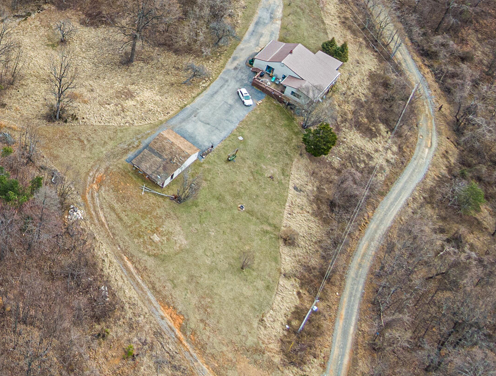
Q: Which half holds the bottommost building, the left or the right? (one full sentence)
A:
You can find the bottommost building on the left side of the picture.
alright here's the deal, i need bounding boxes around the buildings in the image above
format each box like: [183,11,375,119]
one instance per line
[249,38,345,111]
[132,127,201,191]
